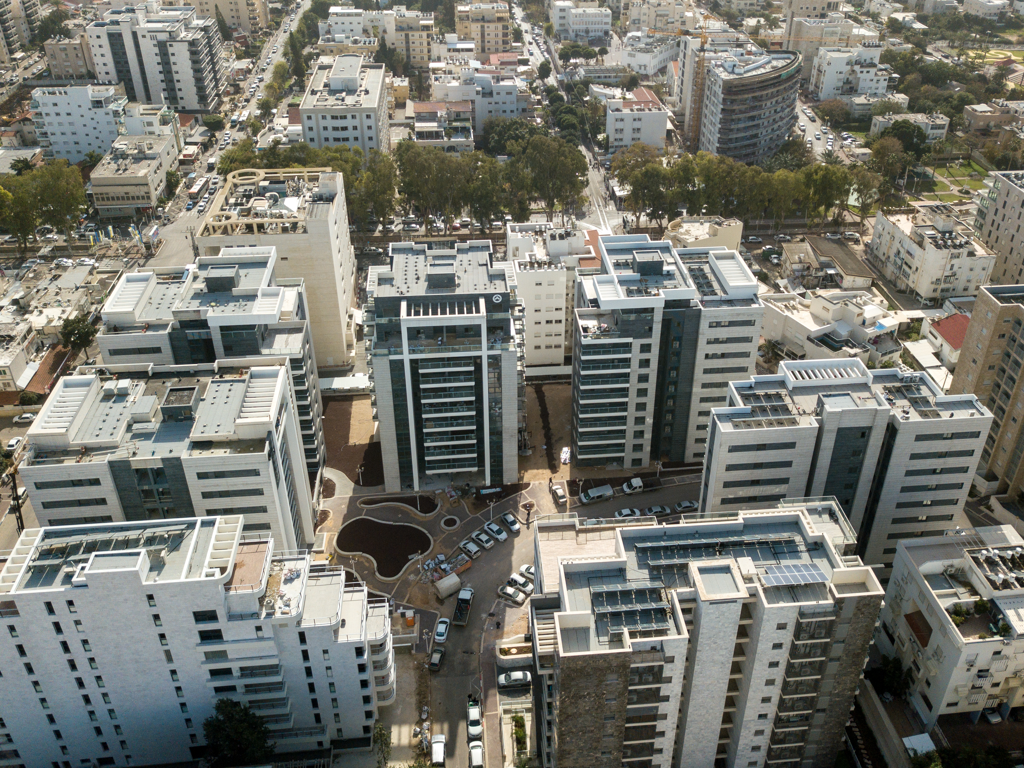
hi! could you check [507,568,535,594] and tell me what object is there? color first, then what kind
white car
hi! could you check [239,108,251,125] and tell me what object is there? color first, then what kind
white vehicle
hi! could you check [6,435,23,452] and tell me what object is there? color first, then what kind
white car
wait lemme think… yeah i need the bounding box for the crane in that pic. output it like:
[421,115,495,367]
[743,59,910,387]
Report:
[661,13,862,146]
